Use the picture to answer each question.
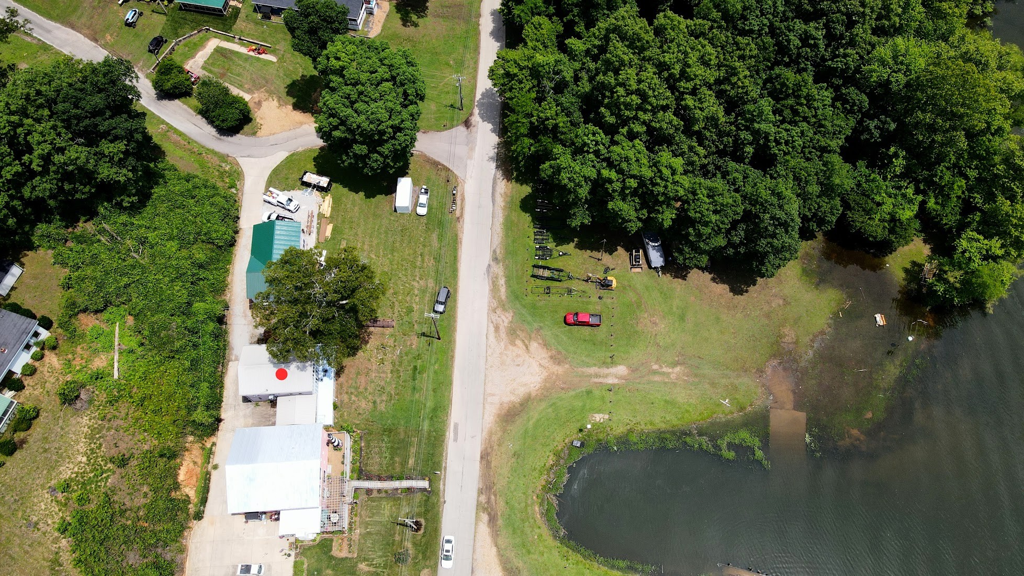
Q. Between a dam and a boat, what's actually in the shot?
boat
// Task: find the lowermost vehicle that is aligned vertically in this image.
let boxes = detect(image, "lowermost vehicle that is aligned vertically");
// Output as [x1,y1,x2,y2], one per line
[440,533,456,570]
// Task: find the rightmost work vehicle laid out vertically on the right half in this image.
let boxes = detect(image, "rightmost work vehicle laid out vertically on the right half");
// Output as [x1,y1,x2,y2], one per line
[631,247,644,272]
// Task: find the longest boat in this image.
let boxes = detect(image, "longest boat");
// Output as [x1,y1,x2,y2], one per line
[643,228,668,278]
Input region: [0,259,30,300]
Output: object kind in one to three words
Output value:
shed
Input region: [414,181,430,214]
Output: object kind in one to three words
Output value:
vehicle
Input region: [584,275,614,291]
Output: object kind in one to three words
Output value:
work vehicle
